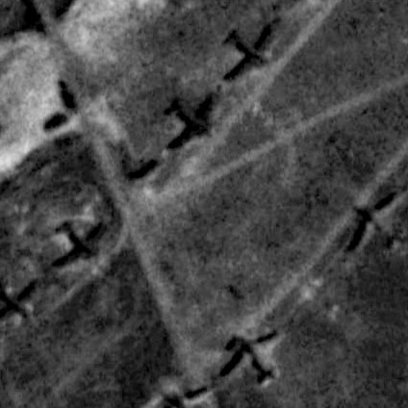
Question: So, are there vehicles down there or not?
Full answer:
Yes, a vehicle appears in the view.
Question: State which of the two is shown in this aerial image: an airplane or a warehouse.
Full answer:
I can see an airplane in this picture.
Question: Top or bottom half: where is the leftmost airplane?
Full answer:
Seen from above, the leftmost airplane lies in the bottom half of the view.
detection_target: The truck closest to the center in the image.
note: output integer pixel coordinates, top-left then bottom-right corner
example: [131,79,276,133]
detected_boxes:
[123,157,156,180]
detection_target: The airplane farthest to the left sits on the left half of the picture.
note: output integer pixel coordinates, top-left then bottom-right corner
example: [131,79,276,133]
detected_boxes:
[0,280,40,318]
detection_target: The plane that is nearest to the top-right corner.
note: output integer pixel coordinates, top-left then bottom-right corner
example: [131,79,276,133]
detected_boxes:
[224,25,274,82]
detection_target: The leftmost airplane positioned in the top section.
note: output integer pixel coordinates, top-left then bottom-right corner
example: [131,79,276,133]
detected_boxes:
[166,94,212,149]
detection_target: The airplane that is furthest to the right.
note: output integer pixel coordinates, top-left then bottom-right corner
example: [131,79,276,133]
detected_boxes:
[353,196,408,252]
